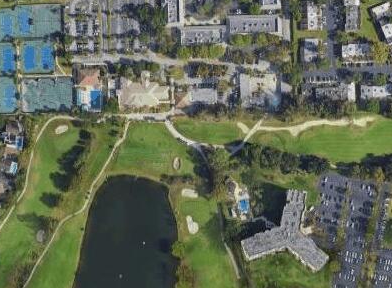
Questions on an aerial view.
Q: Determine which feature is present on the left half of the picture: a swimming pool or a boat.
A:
swimming pool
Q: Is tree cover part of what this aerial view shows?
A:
Yes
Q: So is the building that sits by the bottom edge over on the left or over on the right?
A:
right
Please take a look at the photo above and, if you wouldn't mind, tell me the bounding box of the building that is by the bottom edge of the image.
[240,188,329,274]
